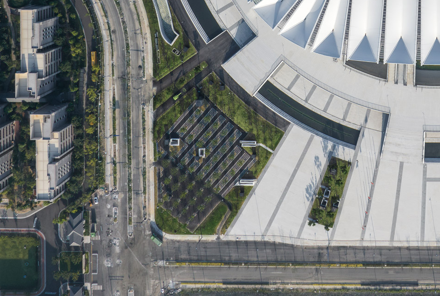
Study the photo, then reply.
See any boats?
No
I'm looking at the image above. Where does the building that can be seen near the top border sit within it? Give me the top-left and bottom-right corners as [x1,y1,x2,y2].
[14,4,63,100]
